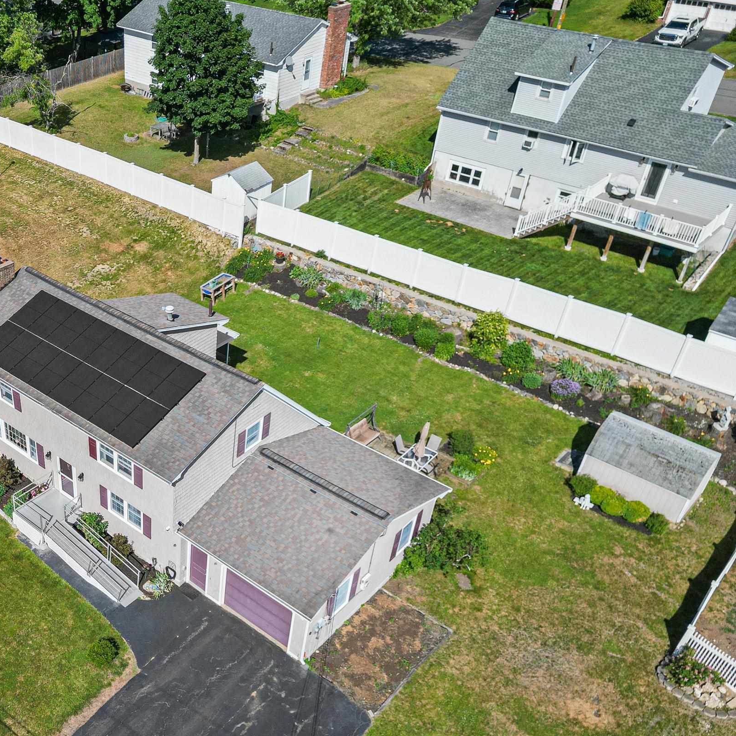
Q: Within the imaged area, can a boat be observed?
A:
No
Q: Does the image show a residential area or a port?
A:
residential area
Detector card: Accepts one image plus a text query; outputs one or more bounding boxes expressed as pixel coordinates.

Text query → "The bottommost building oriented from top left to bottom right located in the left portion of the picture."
[0,253,457,664]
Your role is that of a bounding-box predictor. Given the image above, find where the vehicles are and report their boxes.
[493,0,540,16]
[661,8,712,43]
